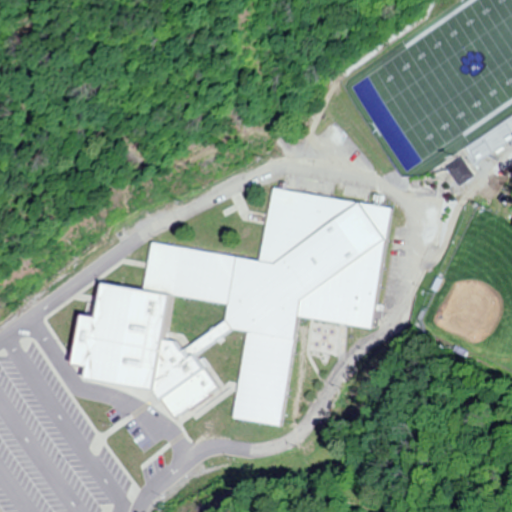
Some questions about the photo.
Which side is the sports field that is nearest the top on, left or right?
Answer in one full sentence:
It is on the right.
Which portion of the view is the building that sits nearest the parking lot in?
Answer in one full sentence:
The building that sits nearest the parking lot is in the center part of the image.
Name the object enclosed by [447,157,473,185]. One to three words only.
building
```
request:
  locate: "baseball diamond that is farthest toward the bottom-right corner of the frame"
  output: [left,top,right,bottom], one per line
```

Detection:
[426,207,512,374]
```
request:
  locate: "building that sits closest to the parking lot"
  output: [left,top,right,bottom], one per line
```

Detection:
[71,186,392,426]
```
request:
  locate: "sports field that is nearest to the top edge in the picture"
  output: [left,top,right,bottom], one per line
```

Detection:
[342,0,512,182]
